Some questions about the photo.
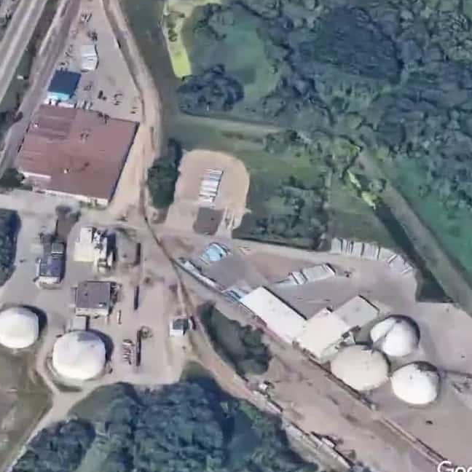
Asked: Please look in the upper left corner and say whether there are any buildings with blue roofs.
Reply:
Yes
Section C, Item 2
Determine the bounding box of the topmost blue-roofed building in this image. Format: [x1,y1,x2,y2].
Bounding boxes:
[49,69,81,101]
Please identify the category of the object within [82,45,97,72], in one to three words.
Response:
shed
